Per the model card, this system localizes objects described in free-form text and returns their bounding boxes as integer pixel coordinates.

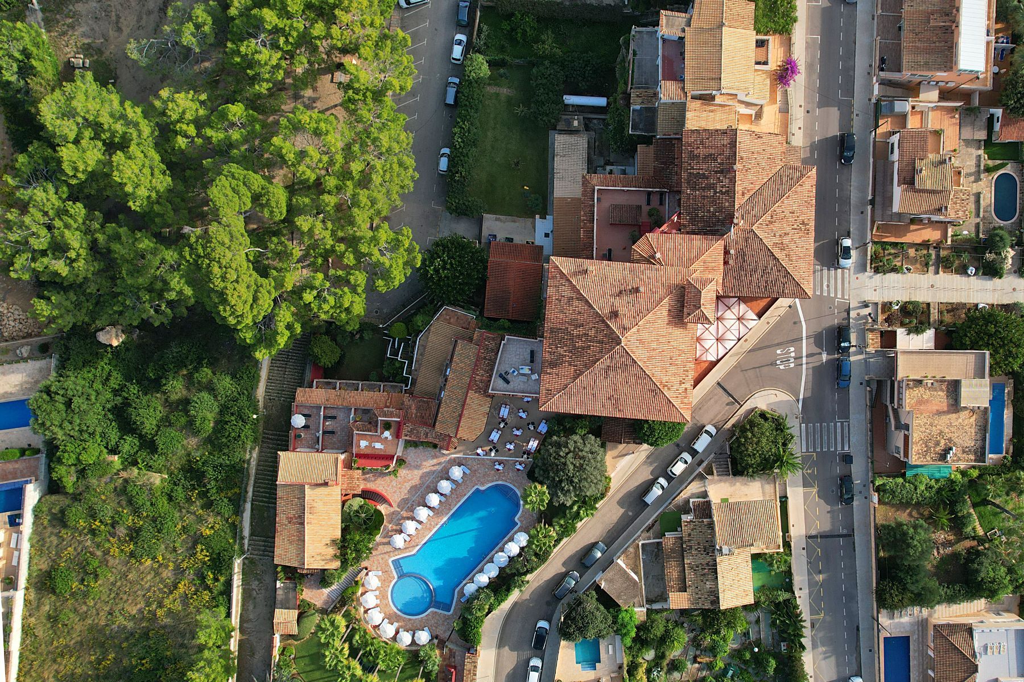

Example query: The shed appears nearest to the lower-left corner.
[273,576,302,636]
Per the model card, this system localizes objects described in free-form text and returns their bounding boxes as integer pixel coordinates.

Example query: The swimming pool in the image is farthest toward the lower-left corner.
[0,483,24,513]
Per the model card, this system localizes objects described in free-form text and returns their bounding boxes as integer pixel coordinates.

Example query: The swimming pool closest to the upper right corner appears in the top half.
[991,170,1021,222]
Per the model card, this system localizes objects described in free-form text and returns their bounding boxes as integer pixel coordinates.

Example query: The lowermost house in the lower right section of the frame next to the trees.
[912,609,1024,682]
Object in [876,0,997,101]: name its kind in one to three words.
house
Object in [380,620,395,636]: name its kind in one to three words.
umbrella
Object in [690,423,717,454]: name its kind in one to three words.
vehicle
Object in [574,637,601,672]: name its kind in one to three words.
swimming pool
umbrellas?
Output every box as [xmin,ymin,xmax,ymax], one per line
[514,532,529,547]
[426,492,441,508]
[365,574,380,589]
[493,551,508,567]
[390,534,405,549]
[415,628,430,644]
[380,620,395,636]
[402,520,417,535]
[463,581,478,596]
[289,412,307,430]
[483,563,498,578]
[504,541,520,556]
[448,465,463,480]
[368,608,383,623]
[362,592,377,607]
[474,572,489,586]
[397,630,412,646]
[436,479,451,494]
[414,507,429,522]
